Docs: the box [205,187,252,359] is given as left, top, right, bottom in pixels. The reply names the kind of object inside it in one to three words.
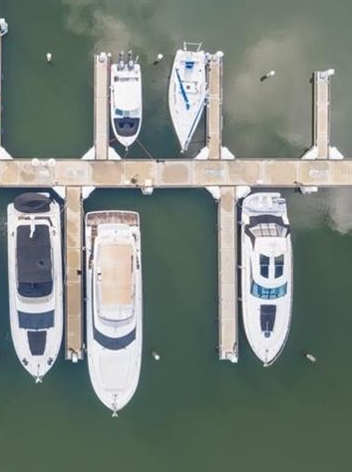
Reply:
pier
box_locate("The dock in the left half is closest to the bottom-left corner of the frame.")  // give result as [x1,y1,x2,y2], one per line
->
[52,187,96,359]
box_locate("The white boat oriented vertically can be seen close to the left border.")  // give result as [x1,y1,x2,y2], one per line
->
[7,200,63,385]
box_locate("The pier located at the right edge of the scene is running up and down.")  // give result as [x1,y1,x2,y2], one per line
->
[300,71,342,159]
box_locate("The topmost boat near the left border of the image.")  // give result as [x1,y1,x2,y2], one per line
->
[14,192,52,213]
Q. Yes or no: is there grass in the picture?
No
